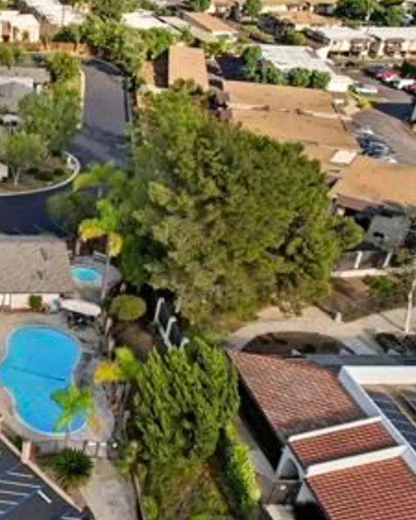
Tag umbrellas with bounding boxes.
[58,303,107,332]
